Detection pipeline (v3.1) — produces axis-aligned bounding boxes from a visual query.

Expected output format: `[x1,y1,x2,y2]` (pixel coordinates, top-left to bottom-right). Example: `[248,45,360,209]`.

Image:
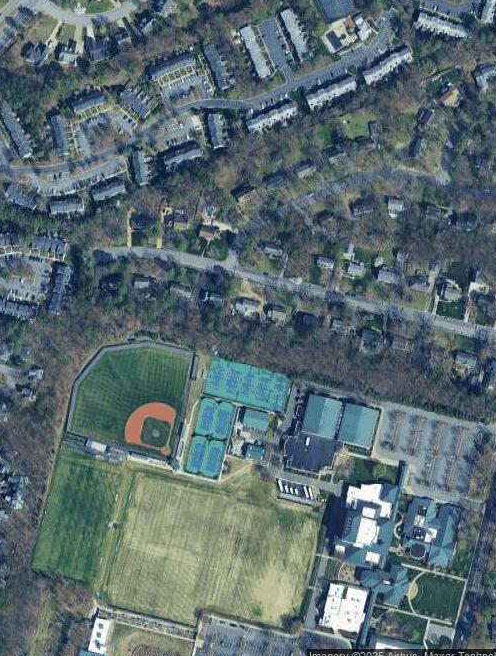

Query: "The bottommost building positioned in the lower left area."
[79,618,111,656]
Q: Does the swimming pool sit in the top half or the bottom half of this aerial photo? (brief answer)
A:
top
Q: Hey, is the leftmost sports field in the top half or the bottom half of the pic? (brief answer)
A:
bottom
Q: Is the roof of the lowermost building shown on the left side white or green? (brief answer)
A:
white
